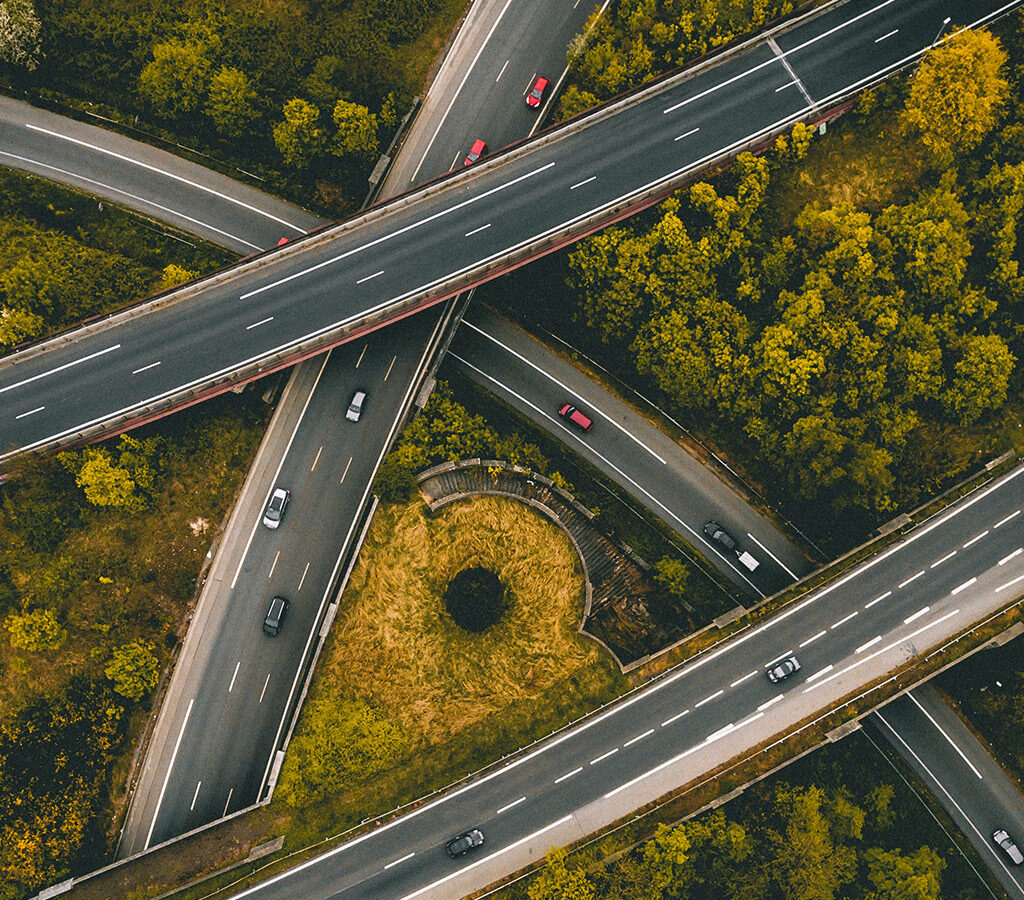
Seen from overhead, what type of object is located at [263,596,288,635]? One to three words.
car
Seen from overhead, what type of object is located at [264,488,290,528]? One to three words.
car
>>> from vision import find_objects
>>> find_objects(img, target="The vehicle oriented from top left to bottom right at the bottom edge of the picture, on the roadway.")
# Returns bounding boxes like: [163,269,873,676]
[991,829,1024,864]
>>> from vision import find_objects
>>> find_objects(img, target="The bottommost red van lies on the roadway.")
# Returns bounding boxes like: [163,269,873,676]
[559,402,592,430]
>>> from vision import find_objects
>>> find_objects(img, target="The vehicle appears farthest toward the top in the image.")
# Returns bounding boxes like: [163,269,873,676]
[524,74,550,110]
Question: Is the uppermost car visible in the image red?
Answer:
Yes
